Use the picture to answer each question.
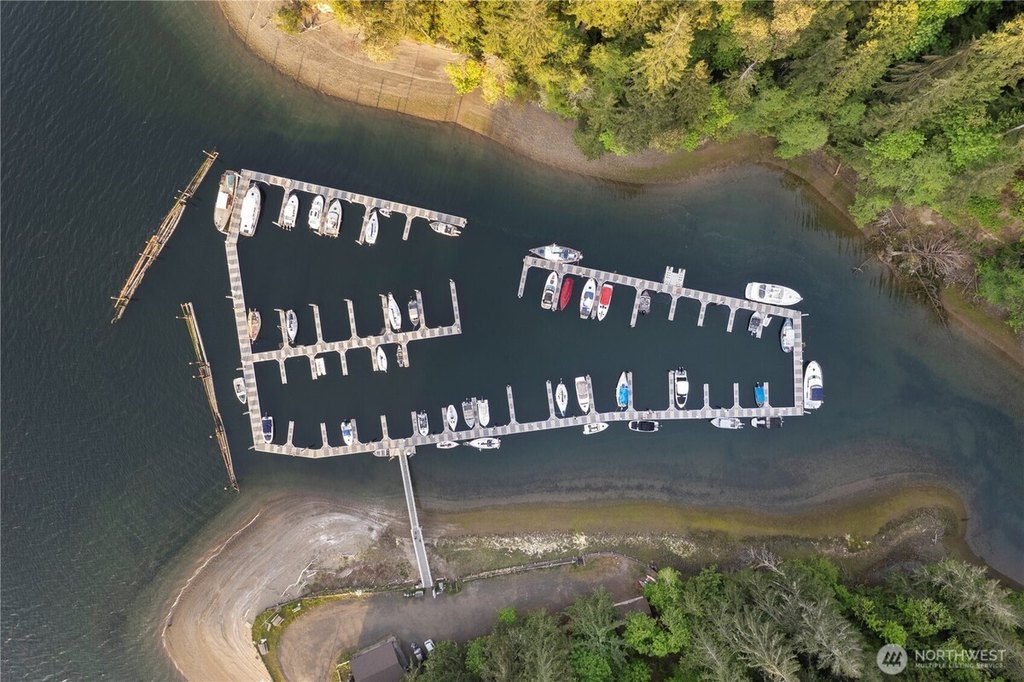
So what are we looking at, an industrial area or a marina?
marina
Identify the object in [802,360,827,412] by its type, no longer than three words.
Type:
boat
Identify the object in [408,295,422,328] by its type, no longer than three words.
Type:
boat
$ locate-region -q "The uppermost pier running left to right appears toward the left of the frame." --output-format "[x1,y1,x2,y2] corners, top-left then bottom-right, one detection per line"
[246,170,467,246]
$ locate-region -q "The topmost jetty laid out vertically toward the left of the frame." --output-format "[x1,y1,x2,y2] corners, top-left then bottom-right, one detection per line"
[227,168,265,444]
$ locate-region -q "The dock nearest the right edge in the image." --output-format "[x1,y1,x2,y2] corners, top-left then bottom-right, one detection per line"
[792,319,804,407]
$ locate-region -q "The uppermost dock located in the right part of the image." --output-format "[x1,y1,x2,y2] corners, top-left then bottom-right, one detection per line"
[517,256,803,340]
